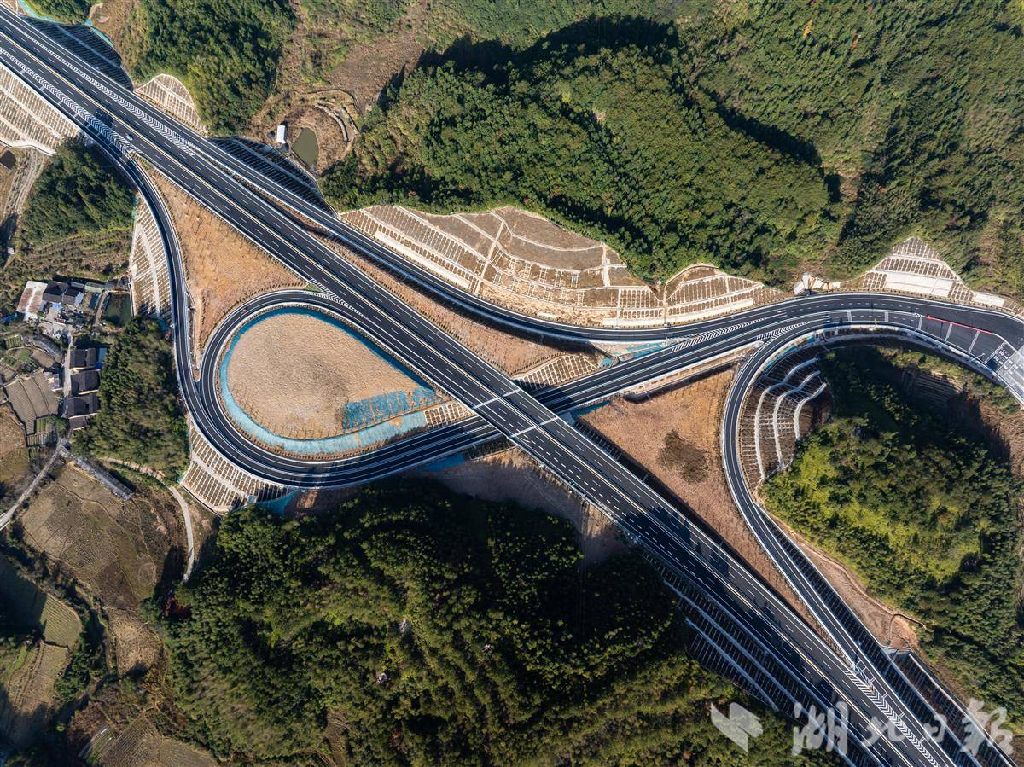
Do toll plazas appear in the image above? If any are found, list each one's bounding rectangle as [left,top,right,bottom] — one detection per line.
[997,346,1024,402]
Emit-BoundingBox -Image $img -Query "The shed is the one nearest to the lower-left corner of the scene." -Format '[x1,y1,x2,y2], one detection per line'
[61,449,135,501]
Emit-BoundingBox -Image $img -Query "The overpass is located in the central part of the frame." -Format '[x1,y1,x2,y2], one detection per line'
[473,381,558,448]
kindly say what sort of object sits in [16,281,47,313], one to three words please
shed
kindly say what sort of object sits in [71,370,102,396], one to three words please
house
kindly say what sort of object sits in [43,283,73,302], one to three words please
house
